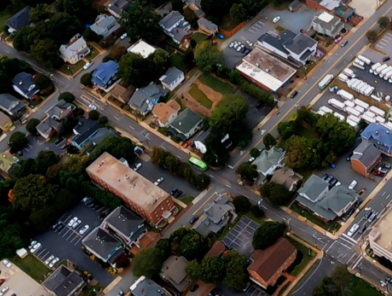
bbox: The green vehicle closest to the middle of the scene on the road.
[188,155,208,172]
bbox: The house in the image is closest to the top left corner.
[2,7,37,34]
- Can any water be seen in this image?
No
